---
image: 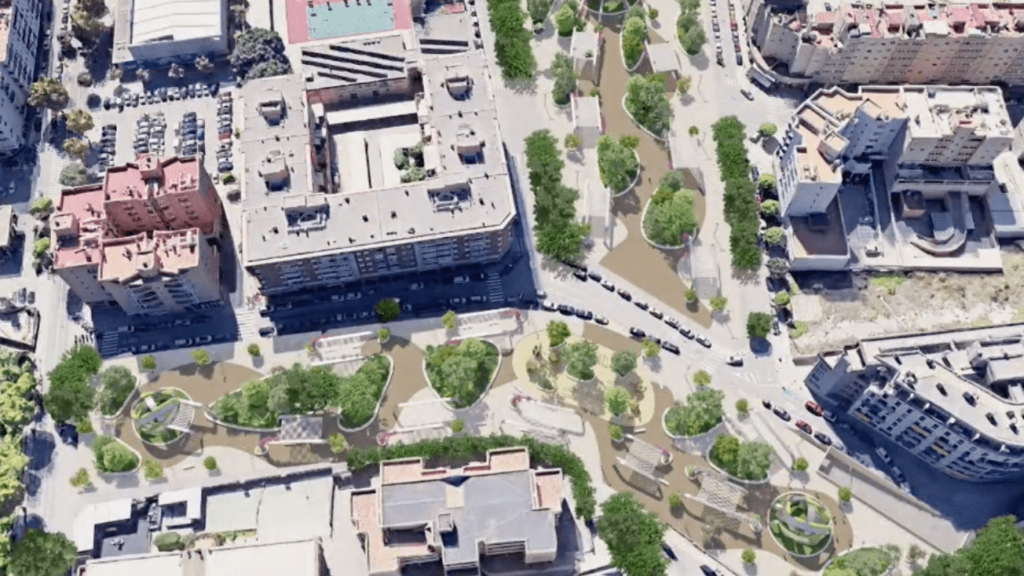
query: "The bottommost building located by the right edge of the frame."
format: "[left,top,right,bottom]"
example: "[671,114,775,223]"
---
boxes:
[801,326,1024,483]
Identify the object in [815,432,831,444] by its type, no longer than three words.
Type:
vehicle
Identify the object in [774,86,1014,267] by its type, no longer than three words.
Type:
building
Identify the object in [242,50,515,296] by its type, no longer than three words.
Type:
building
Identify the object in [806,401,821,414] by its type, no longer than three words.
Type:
vehicle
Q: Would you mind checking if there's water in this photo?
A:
No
